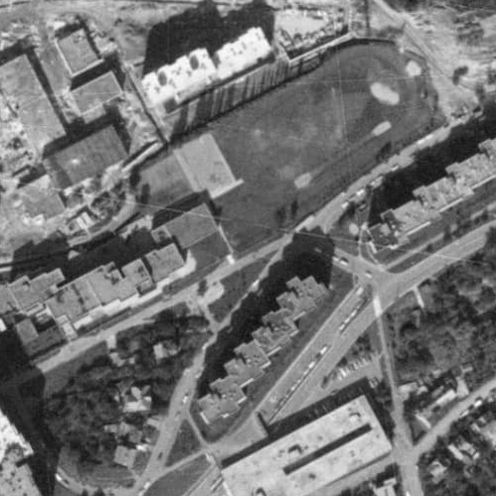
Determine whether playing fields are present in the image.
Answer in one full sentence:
Yes, the frame does contain a playing field.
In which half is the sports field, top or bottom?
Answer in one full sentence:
The sports field sits in the top half of the picture.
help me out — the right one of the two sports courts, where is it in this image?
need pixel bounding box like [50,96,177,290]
[174,133,236,195]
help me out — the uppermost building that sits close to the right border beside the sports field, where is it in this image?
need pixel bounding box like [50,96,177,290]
[369,138,496,250]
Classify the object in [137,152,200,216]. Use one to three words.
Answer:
sports court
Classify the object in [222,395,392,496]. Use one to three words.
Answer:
building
